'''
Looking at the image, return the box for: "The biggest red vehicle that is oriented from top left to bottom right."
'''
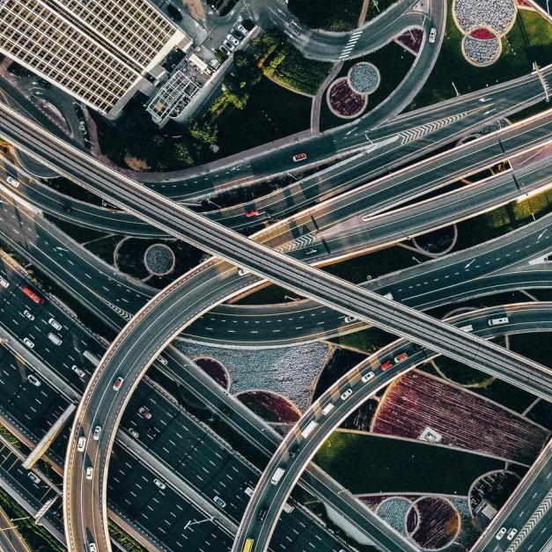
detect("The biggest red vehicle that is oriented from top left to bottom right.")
[22,287,40,302]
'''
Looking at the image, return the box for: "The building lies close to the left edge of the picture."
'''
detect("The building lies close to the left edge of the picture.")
[0,0,197,128]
